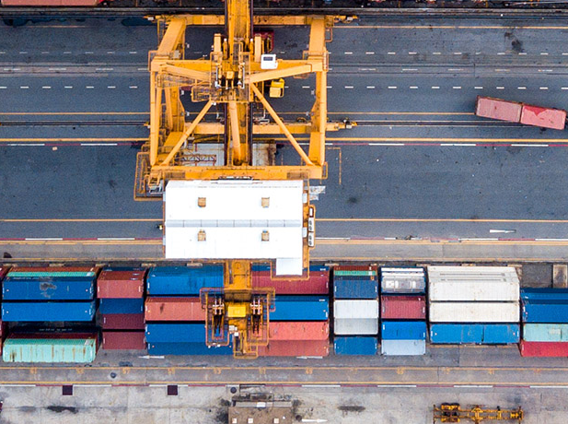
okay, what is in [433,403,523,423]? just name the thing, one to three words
trailer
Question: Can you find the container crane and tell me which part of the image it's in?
center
